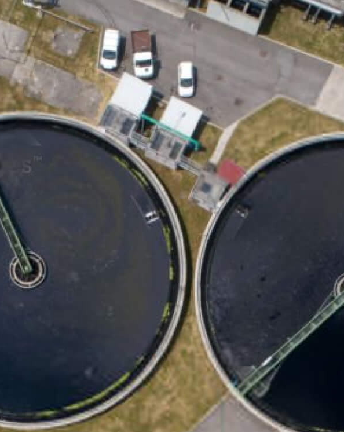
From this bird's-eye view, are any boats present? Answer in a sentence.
No, I can't see a single boat in this photo.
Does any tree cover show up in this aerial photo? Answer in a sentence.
No, the picture contains no tree cover.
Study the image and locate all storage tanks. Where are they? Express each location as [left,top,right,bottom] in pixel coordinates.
[0,112,187,430]
[195,132,344,432]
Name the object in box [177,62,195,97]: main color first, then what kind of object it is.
white car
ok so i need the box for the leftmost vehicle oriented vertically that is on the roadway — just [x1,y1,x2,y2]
[100,31,119,71]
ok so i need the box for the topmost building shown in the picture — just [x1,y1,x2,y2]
[110,72,153,118]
